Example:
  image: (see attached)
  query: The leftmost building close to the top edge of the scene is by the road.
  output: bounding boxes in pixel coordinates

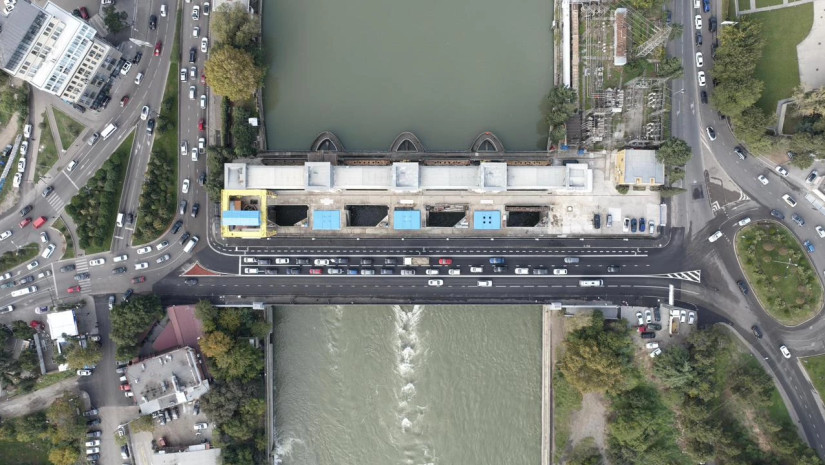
[0,2,127,112]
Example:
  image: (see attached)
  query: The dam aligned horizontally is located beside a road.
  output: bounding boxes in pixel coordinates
[222,131,670,238]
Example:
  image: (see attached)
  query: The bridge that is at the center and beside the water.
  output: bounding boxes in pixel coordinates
[139,200,705,307]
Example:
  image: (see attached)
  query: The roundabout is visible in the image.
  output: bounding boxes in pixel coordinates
[736,220,824,327]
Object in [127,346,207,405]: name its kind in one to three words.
building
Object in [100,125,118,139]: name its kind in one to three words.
vehicle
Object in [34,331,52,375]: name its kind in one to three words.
shed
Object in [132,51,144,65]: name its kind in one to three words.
vehicle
